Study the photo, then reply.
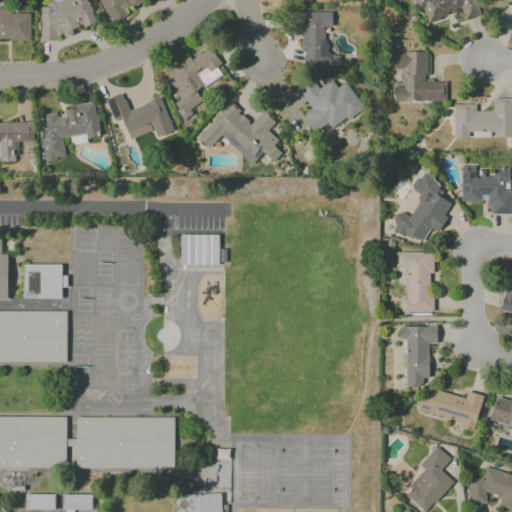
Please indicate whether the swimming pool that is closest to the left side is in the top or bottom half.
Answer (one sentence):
The swimming pool that is closest to the left side sits in the top half of the picture.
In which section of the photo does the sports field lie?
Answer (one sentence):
The sports field is in the center part of the image.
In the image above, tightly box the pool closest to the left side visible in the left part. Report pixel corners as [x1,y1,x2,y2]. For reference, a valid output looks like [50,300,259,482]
[80,146,109,170]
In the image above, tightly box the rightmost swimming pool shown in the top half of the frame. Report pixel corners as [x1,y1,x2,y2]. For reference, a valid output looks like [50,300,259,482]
[445,158,460,184]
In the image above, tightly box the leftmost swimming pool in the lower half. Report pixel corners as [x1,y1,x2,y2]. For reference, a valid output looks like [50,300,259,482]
[390,439,404,459]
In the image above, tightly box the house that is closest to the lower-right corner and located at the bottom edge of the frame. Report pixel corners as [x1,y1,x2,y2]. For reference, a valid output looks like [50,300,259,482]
[466,466,512,506]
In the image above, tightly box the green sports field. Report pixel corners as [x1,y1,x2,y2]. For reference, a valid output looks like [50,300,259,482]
[221,177,382,434]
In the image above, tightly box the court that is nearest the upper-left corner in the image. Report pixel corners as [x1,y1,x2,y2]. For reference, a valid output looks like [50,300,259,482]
[74,226,98,251]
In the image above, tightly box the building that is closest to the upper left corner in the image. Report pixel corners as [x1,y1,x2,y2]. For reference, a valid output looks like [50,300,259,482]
[0,10,31,40]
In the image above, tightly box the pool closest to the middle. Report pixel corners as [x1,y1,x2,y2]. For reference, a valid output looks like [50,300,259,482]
[210,155,238,167]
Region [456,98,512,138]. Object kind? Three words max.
house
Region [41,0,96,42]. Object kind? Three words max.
house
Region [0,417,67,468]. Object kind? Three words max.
building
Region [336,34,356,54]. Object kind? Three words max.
swimming pool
